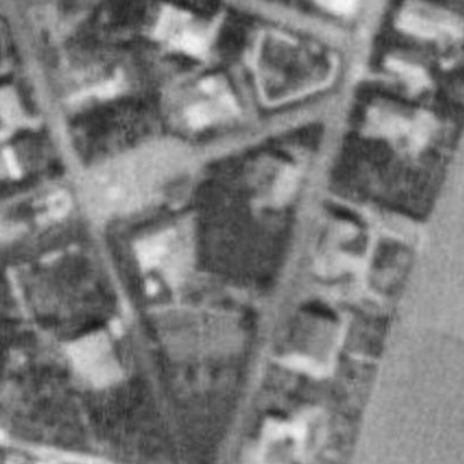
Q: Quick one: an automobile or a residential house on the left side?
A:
residential house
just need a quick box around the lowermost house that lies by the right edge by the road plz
[360,97,442,154]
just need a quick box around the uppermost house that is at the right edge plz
[397,0,464,42]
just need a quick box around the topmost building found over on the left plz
[153,5,212,61]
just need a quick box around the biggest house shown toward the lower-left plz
[67,333,124,389]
